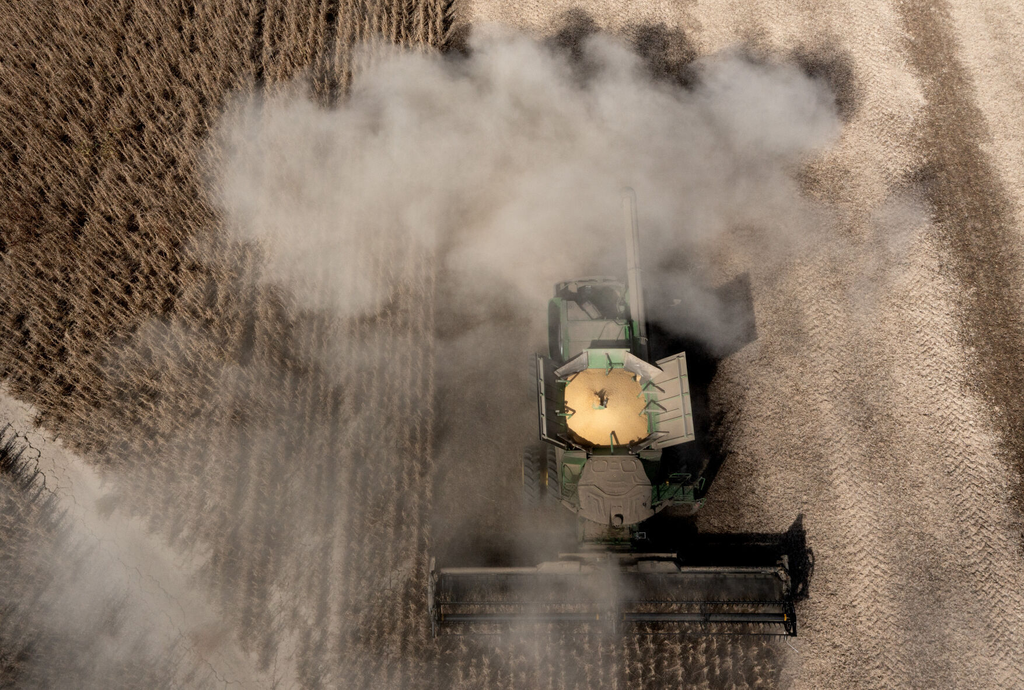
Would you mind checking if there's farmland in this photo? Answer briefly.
Yes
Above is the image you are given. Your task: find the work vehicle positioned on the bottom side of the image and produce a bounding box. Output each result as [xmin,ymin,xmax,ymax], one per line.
[429,186,801,651]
